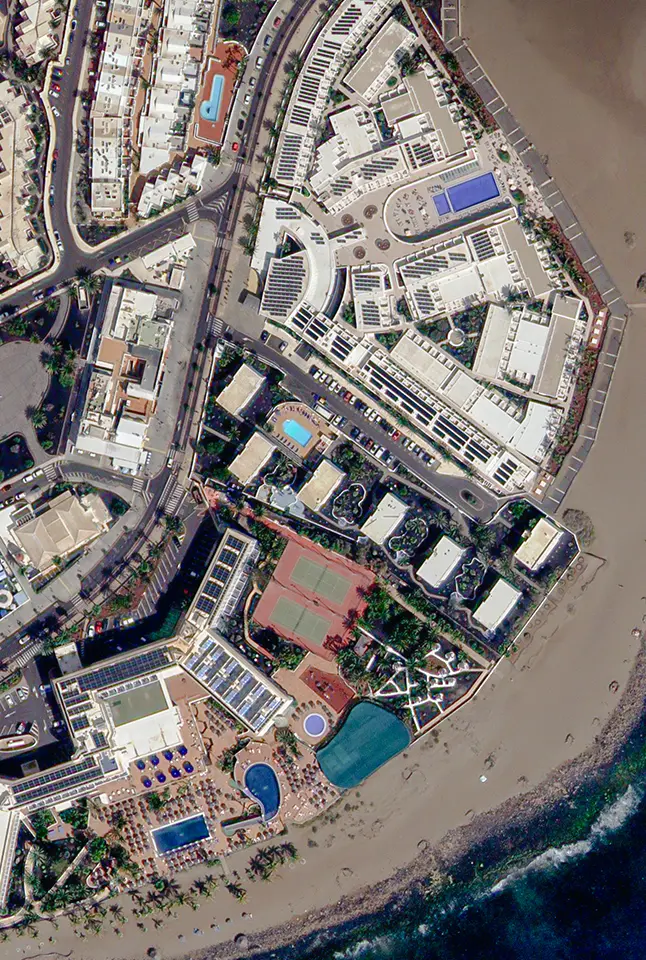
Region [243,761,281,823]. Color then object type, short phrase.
blue swimming pool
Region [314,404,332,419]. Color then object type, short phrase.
white vehicle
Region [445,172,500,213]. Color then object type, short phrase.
blue swimming pool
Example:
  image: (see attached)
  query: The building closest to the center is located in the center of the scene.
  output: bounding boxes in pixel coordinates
[297,460,346,515]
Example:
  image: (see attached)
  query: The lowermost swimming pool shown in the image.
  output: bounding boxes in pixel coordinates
[152,814,210,856]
